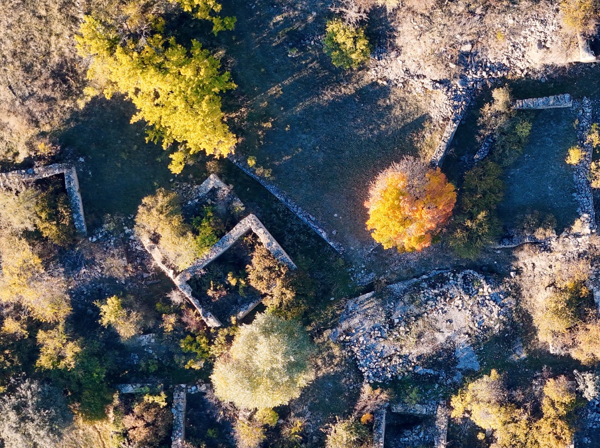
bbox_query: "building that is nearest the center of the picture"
[139,217,303,328]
